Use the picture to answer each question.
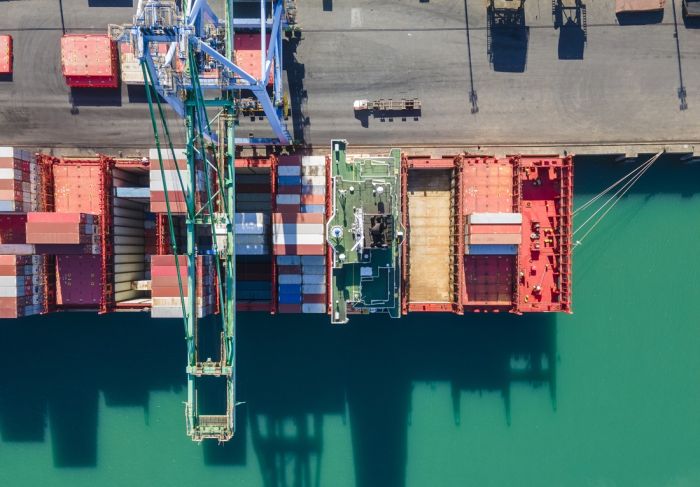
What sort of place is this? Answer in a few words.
port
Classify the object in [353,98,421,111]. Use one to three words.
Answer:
vehicle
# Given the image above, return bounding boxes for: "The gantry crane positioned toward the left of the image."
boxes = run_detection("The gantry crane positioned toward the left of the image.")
[107,0,308,443]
